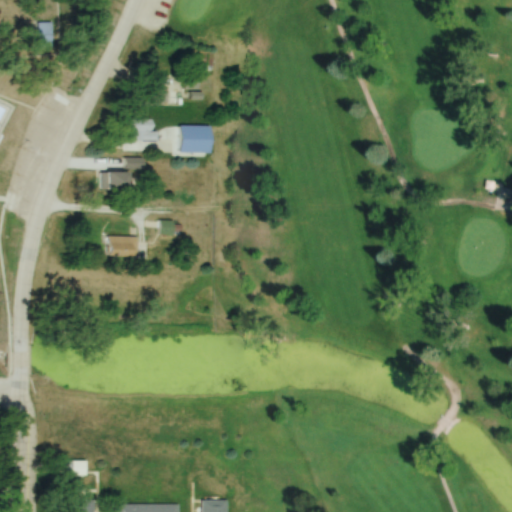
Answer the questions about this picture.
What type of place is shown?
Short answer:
golf course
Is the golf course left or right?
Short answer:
right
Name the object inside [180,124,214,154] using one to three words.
barn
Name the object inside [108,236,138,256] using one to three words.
house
